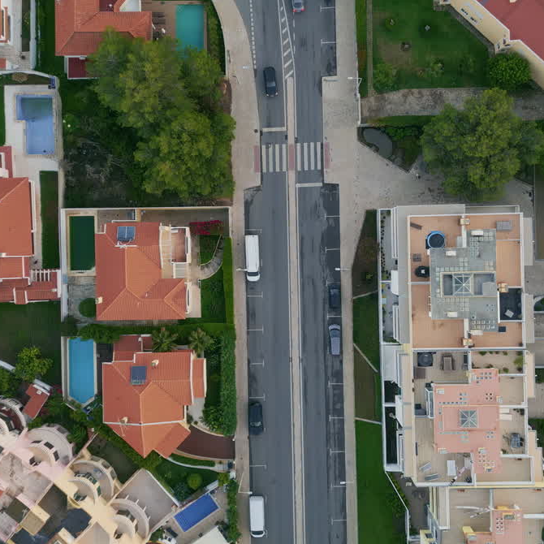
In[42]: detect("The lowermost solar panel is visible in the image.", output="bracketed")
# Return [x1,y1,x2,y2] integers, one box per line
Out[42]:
[131,366,146,381]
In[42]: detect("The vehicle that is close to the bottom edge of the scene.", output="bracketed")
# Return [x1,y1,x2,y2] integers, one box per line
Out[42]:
[249,494,265,536]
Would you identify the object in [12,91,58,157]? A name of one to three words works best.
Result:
swimming pool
